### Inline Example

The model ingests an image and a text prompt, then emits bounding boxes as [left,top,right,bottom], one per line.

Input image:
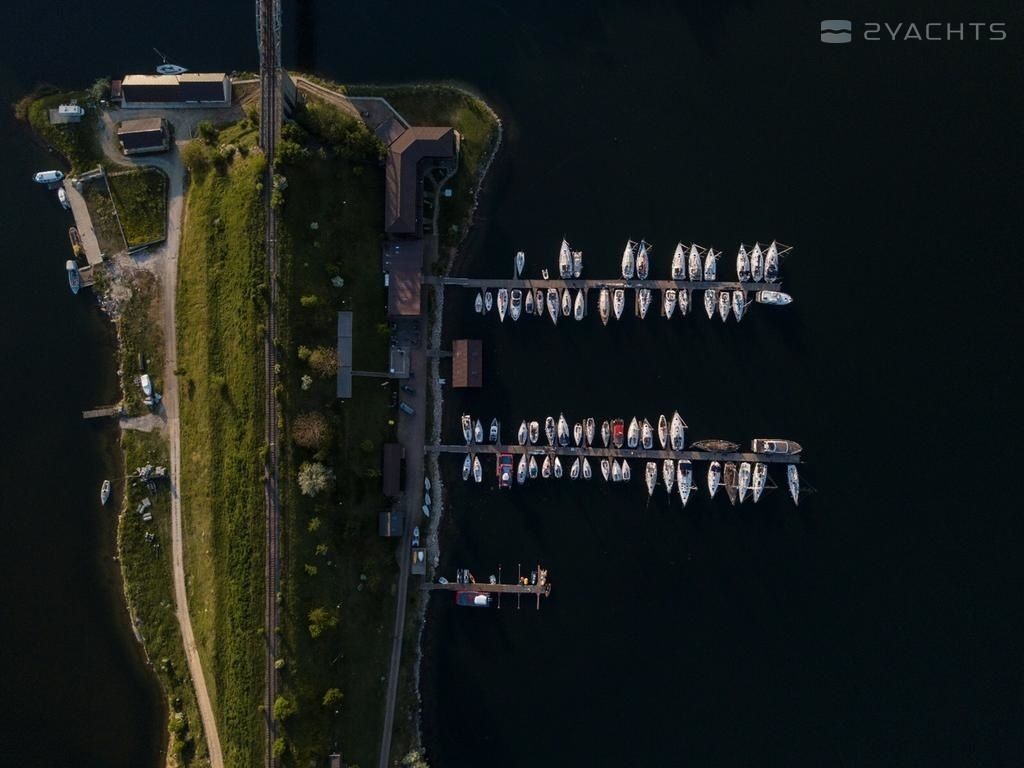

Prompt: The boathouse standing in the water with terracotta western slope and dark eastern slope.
[452,339,483,387]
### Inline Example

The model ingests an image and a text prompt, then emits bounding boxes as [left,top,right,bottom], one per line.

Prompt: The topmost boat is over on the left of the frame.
[157,54,191,74]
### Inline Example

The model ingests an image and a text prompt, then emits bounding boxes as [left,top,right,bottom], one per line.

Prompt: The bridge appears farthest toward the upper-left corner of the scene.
[256,0,301,114]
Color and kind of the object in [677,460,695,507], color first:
white boat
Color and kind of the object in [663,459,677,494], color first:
white boat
